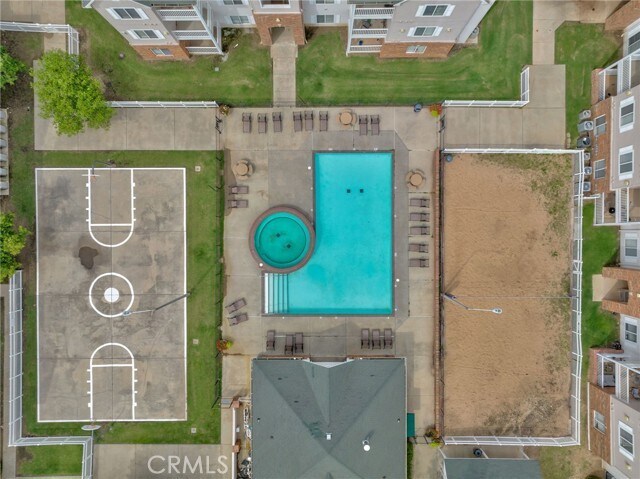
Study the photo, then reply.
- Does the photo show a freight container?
No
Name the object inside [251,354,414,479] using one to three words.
building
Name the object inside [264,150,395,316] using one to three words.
swimming pool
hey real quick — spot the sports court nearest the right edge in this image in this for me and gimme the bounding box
[443,151,574,438]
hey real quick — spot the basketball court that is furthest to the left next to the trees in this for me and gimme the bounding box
[35,167,188,421]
